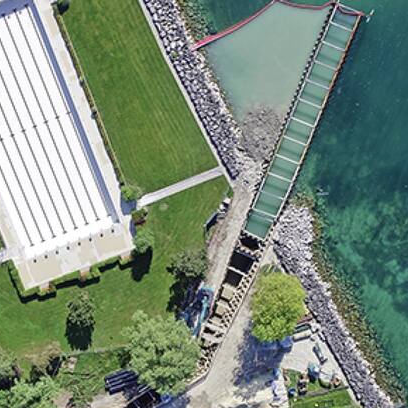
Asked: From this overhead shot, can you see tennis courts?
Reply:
No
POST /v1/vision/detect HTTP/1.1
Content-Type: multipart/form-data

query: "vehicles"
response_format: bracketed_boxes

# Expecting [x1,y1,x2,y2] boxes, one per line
[313,344,328,365]
[188,292,213,344]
